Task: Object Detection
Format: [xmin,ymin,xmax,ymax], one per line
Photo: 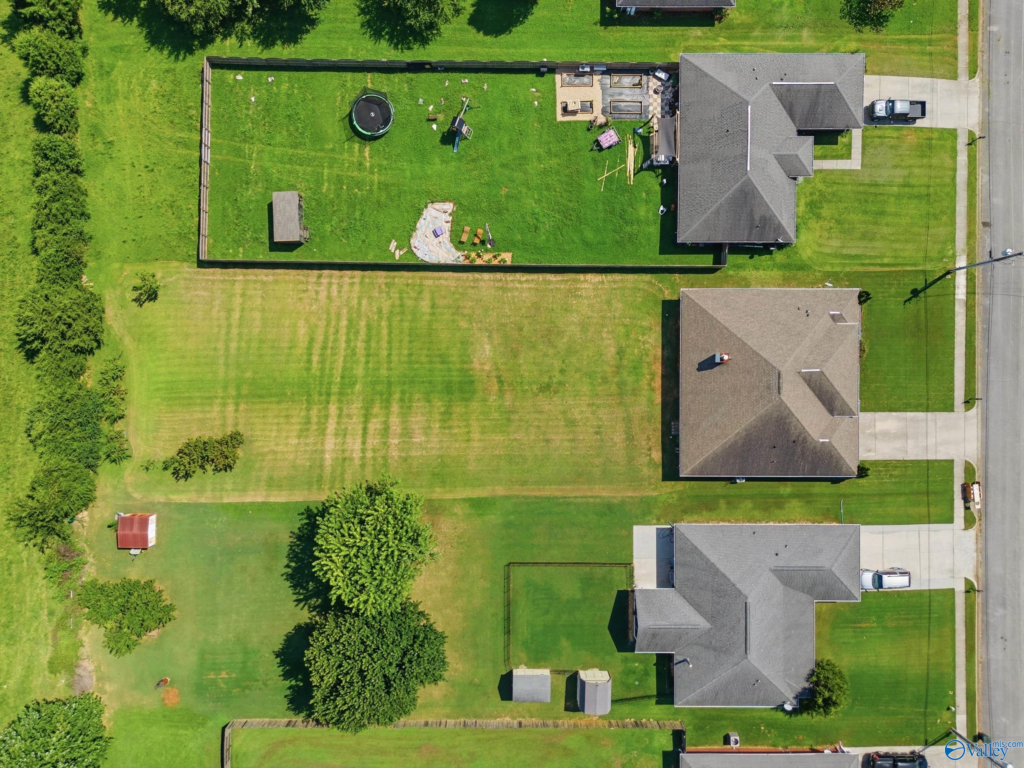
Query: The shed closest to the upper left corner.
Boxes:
[273,191,304,243]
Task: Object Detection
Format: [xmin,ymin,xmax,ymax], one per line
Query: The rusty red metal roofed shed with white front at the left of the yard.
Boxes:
[117,513,157,548]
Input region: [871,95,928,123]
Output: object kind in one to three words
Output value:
truck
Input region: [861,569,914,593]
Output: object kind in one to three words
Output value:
car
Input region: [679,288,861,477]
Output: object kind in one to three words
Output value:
house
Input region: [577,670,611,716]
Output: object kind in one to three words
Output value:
shed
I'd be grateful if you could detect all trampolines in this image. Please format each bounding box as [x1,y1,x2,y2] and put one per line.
[342,83,396,138]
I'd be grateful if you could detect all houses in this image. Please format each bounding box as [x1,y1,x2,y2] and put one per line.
[676,53,866,243]
[634,523,862,708]
[679,288,861,477]
[615,0,736,12]
[679,749,859,768]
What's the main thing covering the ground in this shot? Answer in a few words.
grass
